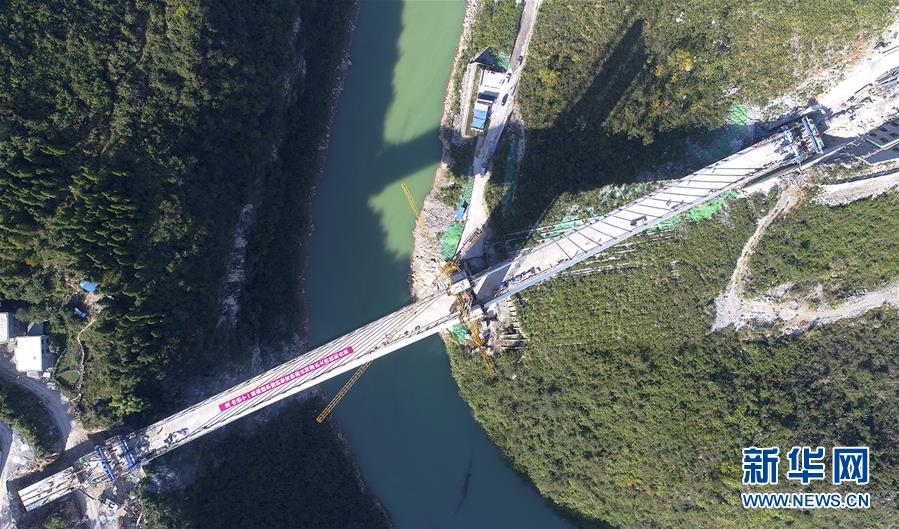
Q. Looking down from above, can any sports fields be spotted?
No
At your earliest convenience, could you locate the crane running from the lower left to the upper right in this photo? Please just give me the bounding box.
[316,237,484,421]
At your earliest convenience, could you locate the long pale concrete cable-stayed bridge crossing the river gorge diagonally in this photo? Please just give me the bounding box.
[119,125,799,468]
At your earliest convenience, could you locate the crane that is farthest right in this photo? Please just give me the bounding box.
[401,182,499,379]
